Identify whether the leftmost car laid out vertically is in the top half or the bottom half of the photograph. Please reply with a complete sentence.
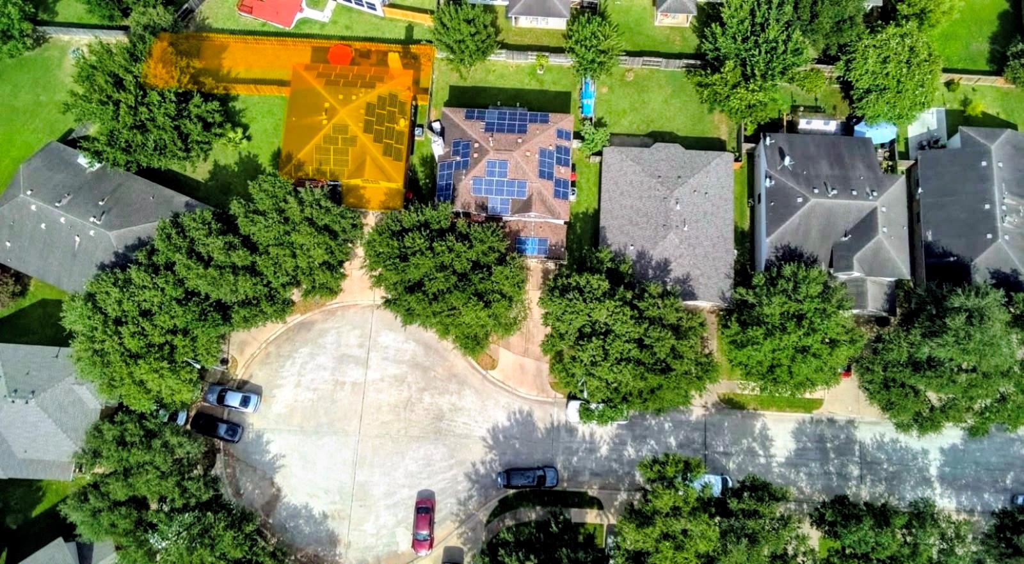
You can find the leftmost car laid out vertically in the bottom half.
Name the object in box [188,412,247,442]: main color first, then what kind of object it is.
black car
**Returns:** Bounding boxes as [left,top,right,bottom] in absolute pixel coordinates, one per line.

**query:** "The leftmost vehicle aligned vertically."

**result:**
[409,495,436,557]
